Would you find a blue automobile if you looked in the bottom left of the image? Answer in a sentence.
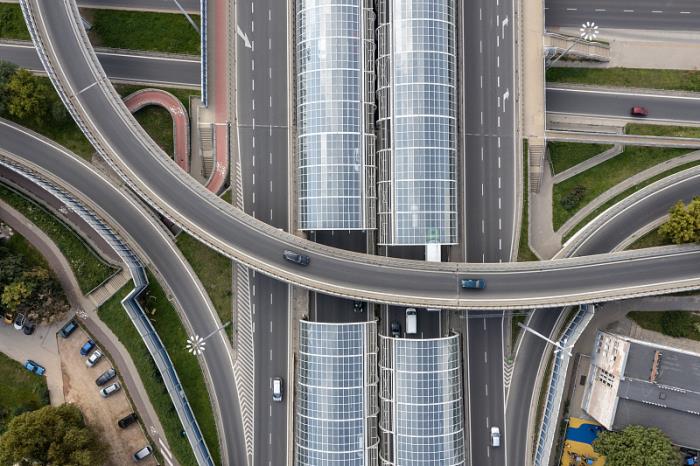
Yes, a blue automobile can be seen in the bottom left of the image.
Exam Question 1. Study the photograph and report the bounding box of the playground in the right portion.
[564,418,612,466]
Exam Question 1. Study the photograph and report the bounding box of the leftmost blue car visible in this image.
[25,360,46,374]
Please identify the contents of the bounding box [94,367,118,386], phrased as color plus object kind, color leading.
gray car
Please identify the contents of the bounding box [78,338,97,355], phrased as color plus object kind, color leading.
blue car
